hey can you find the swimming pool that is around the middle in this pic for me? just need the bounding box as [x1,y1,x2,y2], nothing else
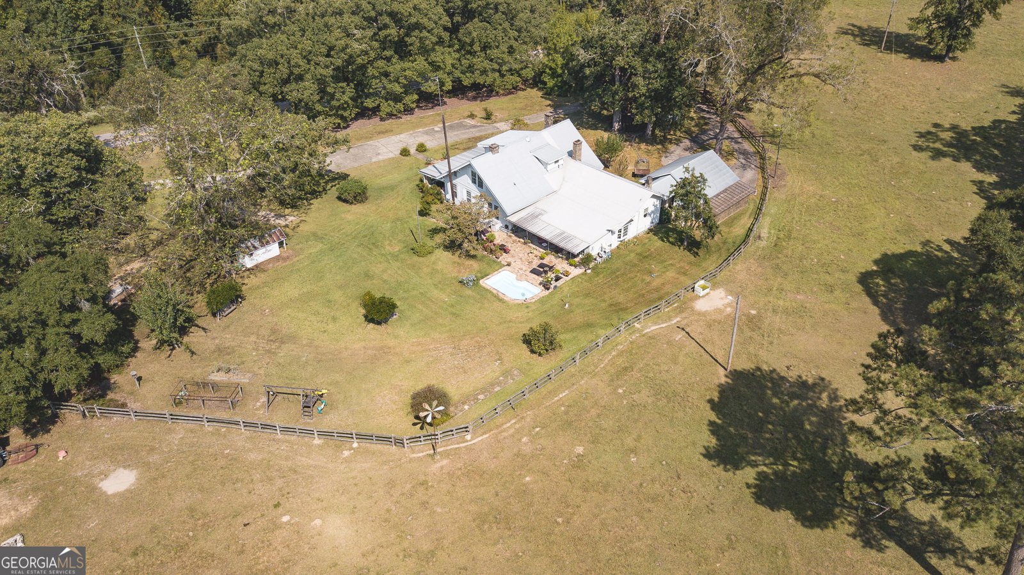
[480,267,545,302]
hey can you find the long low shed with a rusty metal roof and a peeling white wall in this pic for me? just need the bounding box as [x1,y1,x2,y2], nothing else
[232,228,291,267]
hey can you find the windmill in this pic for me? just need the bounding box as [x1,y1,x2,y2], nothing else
[420,400,447,457]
